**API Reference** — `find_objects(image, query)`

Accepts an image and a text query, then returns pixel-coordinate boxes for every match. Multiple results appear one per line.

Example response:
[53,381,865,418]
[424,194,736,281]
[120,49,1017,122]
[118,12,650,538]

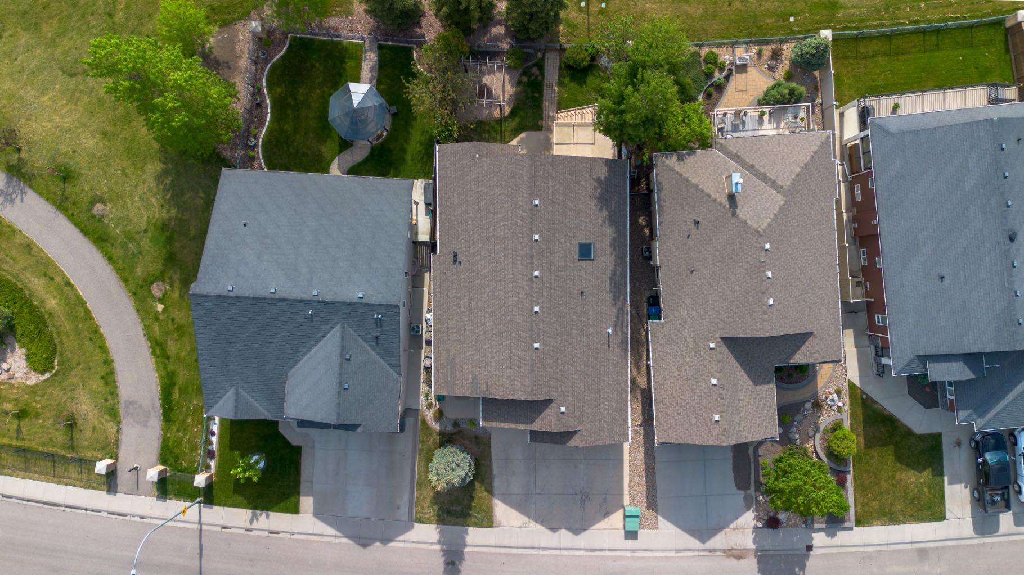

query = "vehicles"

[1009,430,1024,496]
[967,430,1012,513]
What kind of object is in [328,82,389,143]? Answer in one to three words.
gazebo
